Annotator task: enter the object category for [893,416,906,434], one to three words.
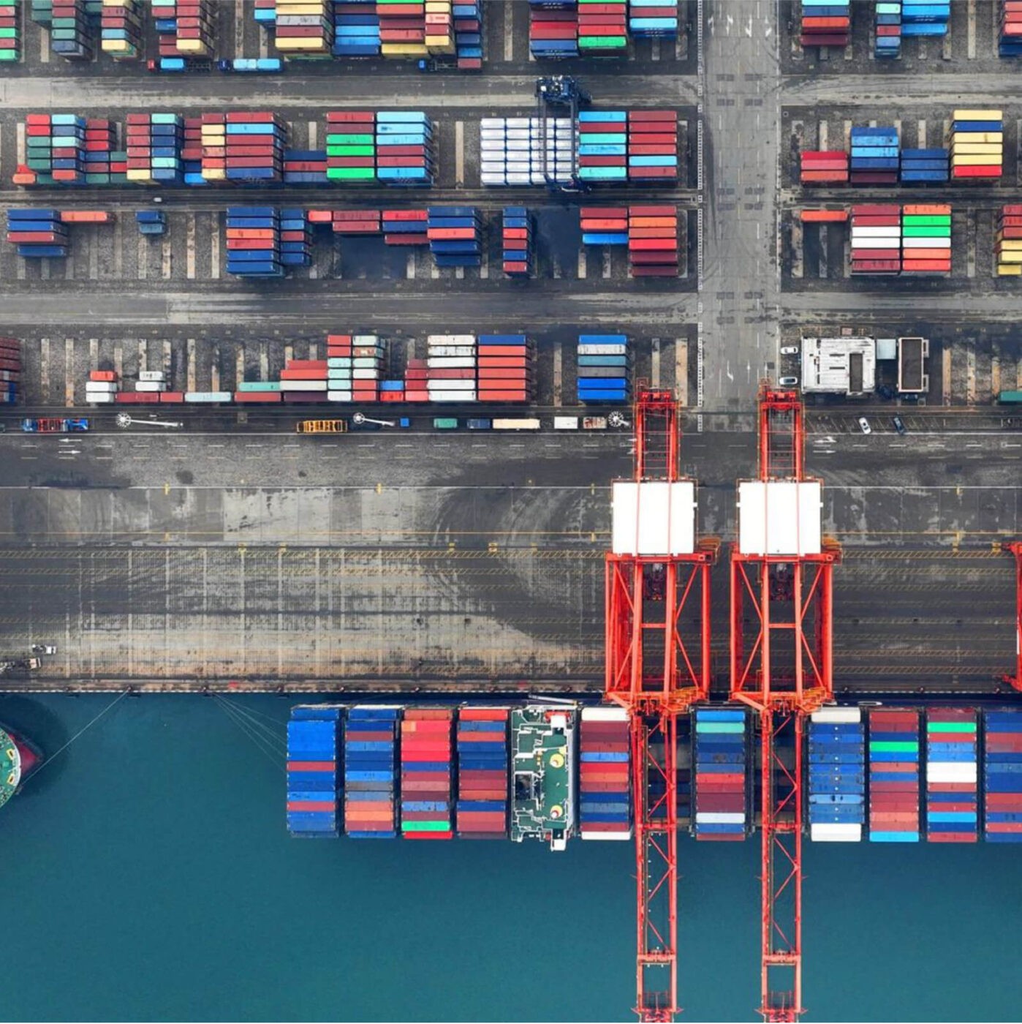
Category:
vehicle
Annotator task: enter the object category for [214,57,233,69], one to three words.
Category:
vehicle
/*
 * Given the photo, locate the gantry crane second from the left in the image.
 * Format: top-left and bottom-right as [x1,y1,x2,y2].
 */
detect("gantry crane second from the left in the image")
[600,376,730,1024]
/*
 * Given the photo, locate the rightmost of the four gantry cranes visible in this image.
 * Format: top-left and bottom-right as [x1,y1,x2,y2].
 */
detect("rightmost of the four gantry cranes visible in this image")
[996,544,1022,689]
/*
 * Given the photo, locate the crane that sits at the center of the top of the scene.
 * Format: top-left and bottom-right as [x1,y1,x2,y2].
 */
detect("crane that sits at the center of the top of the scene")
[537,78,600,201]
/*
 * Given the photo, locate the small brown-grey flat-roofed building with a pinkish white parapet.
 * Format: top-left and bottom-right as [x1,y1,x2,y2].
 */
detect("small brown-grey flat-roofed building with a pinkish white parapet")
[897,337,929,392]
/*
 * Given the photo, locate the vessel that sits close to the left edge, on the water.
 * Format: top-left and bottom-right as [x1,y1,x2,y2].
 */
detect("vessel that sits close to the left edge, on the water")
[0,720,42,802]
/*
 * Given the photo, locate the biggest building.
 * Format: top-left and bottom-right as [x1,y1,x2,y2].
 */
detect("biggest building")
[803,338,875,395]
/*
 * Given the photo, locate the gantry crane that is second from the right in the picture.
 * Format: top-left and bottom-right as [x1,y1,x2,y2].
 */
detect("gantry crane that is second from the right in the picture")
[717,376,848,1024]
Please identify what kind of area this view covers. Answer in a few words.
port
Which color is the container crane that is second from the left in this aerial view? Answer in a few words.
red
